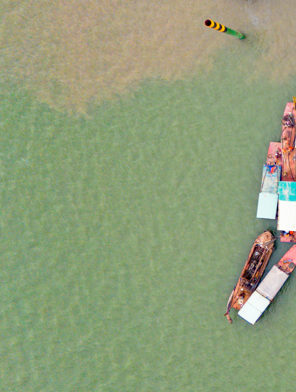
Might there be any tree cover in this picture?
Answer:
No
